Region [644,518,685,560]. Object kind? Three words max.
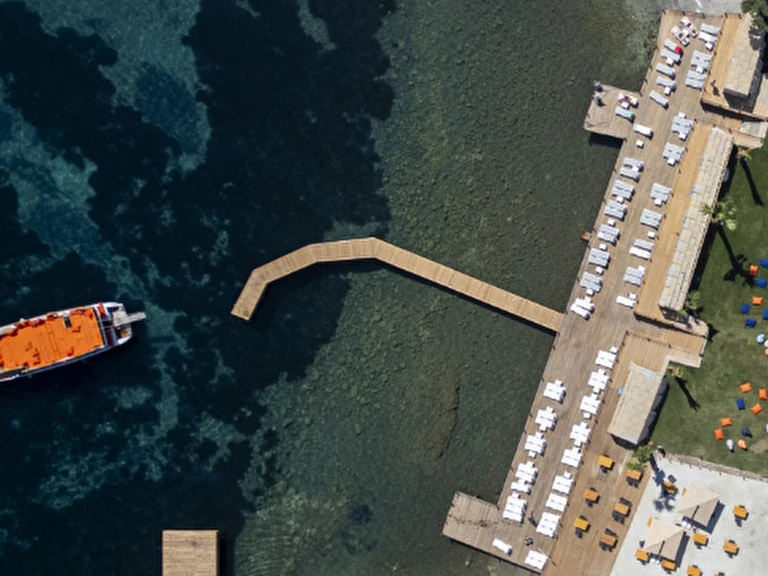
umbrella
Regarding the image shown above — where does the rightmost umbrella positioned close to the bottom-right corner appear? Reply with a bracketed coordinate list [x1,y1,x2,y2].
[676,483,719,526]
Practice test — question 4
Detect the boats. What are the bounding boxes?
[0,299,147,382]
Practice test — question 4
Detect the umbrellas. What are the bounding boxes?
[644,518,685,560]
[676,483,719,526]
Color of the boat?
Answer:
orange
